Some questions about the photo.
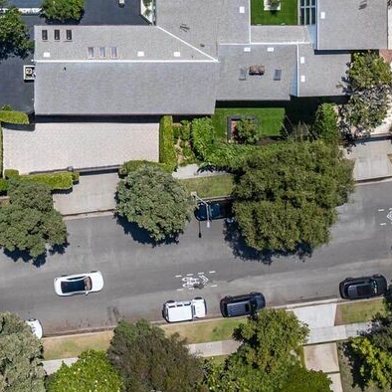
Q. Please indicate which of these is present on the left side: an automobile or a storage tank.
automobile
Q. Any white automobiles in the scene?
Yes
